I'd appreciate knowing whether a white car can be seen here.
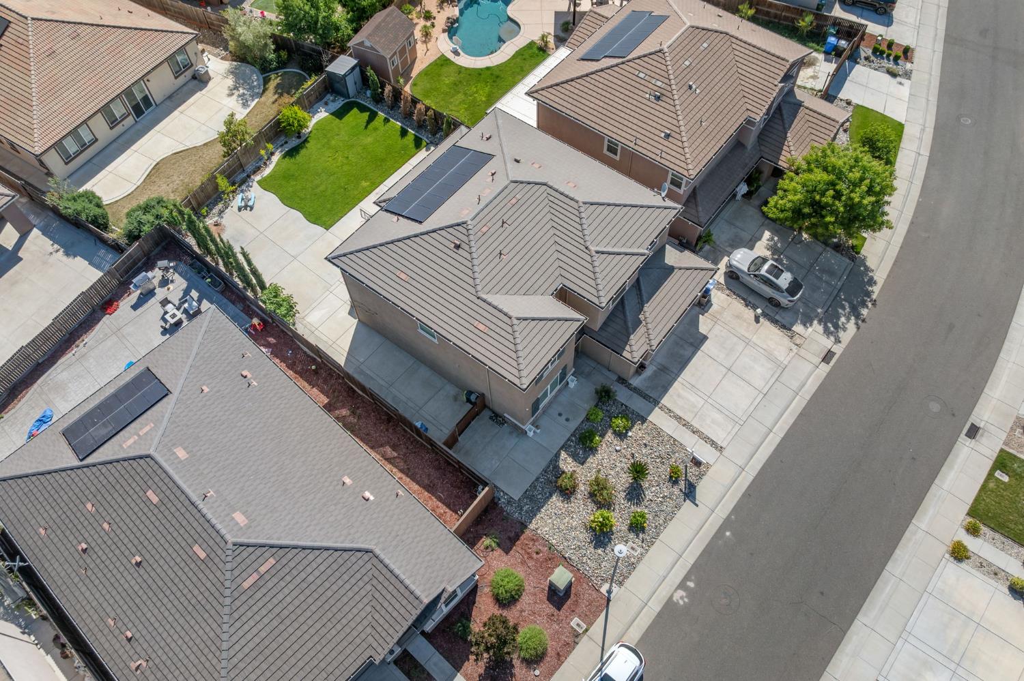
Yes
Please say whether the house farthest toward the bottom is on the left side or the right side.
left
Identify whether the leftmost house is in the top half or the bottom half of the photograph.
top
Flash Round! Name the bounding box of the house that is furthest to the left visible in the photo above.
[0,178,38,243]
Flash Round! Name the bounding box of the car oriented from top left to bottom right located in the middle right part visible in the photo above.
[724,250,808,313]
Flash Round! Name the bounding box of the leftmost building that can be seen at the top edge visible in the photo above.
[0,0,206,178]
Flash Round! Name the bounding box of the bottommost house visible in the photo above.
[0,302,485,681]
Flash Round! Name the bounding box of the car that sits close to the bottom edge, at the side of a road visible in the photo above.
[580,639,646,681]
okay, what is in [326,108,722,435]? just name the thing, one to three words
house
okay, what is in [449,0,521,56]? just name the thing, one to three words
swimming pool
